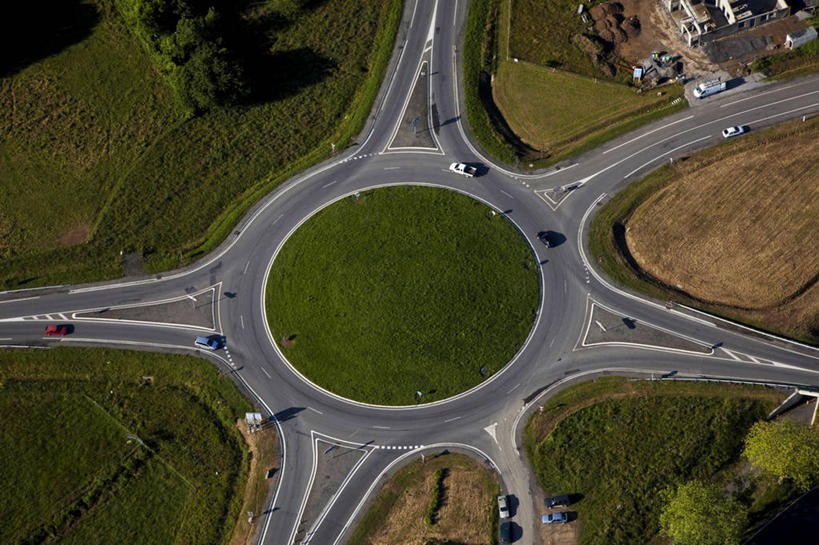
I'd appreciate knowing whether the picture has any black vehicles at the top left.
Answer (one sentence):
No, I see no black vehicle at the top left.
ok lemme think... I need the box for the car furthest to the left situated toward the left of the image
[44,325,68,337]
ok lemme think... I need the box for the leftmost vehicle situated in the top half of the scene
[449,162,477,178]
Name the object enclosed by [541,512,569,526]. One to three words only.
vehicle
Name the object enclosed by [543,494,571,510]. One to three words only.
car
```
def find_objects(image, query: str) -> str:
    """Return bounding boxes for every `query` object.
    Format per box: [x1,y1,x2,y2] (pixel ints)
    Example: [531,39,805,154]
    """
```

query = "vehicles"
[44,325,68,337]
[543,494,571,510]
[449,162,477,178]
[695,78,728,99]
[537,231,556,250]
[194,335,219,351]
[499,522,512,545]
[721,125,745,138]
[498,495,510,520]
[541,512,569,526]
